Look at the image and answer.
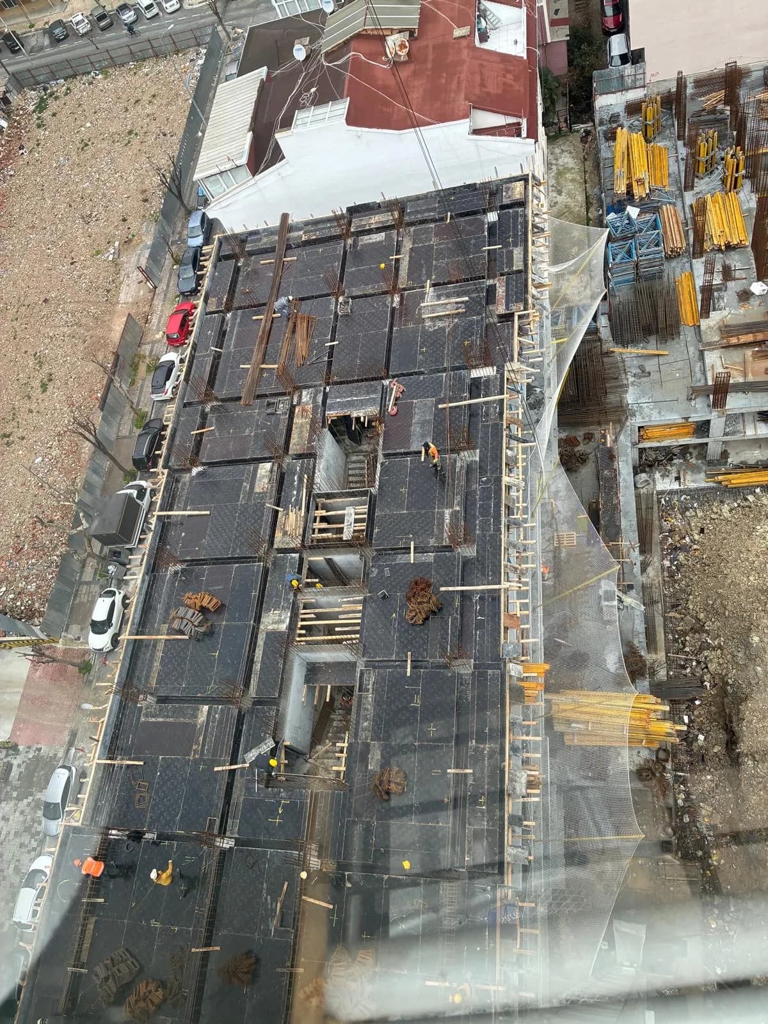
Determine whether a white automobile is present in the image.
Yes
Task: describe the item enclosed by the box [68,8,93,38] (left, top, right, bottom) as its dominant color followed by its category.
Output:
white car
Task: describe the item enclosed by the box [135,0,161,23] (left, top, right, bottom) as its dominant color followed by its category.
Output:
white car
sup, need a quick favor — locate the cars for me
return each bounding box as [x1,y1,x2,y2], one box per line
[127,417,169,471]
[6,850,56,938]
[90,2,115,33]
[160,0,183,16]
[599,0,627,36]
[68,8,93,38]
[192,185,214,210]
[46,15,70,45]
[88,587,128,653]
[183,209,214,251]
[604,27,633,65]
[163,304,197,347]
[174,248,206,296]
[114,0,139,28]
[0,28,22,56]
[147,353,185,403]
[135,0,161,23]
